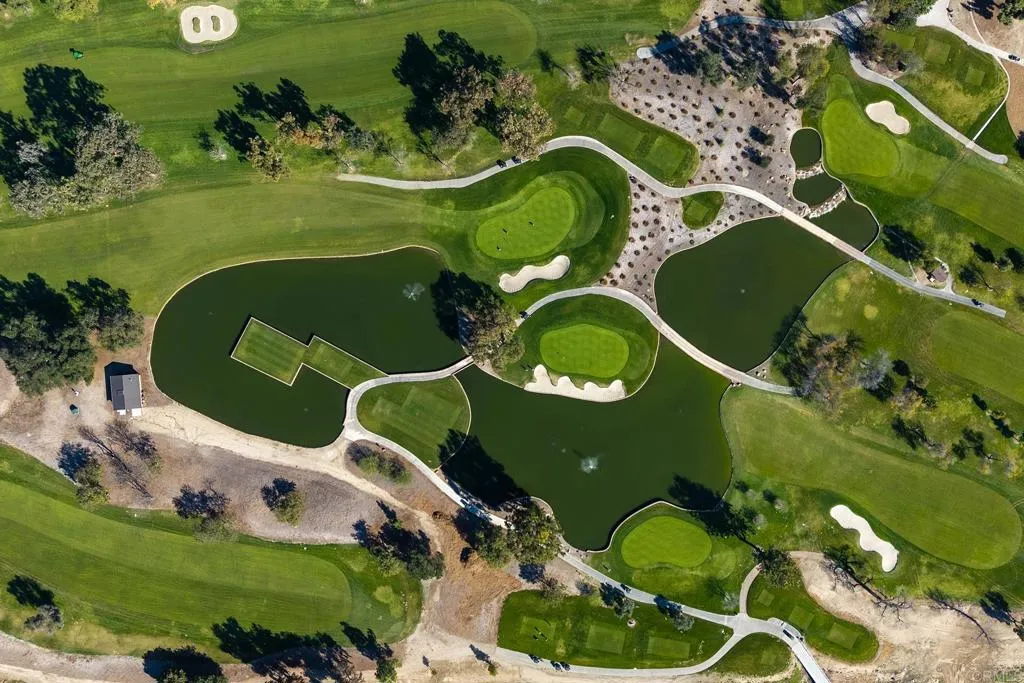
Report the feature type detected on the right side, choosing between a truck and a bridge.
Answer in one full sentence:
You can see a bridge on the right side.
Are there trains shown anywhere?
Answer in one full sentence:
No, the photo shows no train.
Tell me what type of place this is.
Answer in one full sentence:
It's a golf course.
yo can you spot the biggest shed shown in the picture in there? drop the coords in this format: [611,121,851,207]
[109,374,145,416]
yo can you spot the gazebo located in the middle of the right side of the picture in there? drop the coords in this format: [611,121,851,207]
[936,267,953,283]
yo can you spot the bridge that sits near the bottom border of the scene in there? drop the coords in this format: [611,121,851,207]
[793,640,836,683]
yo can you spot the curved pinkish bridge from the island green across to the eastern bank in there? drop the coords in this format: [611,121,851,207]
[651,314,740,382]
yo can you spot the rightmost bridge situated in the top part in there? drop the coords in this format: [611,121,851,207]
[778,204,872,265]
